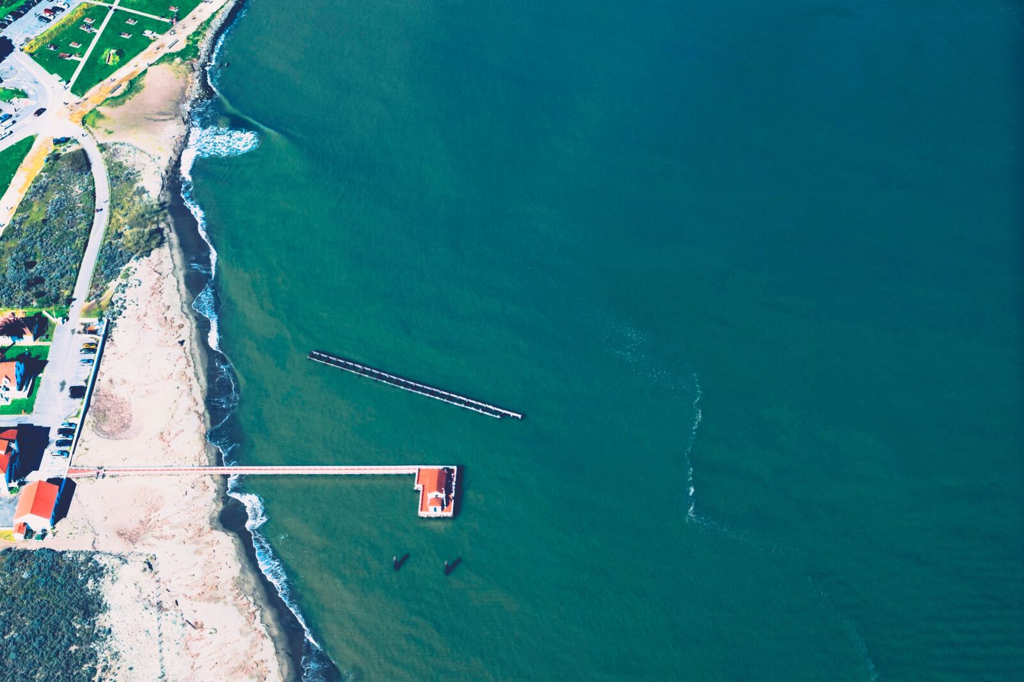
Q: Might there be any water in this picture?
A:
Yes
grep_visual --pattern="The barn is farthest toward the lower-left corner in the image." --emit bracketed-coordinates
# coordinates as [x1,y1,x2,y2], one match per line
[13,479,60,540]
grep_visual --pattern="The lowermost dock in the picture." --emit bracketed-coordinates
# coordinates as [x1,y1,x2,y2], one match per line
[65,463,456,518]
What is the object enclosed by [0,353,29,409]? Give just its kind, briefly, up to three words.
house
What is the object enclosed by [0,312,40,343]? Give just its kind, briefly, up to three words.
house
